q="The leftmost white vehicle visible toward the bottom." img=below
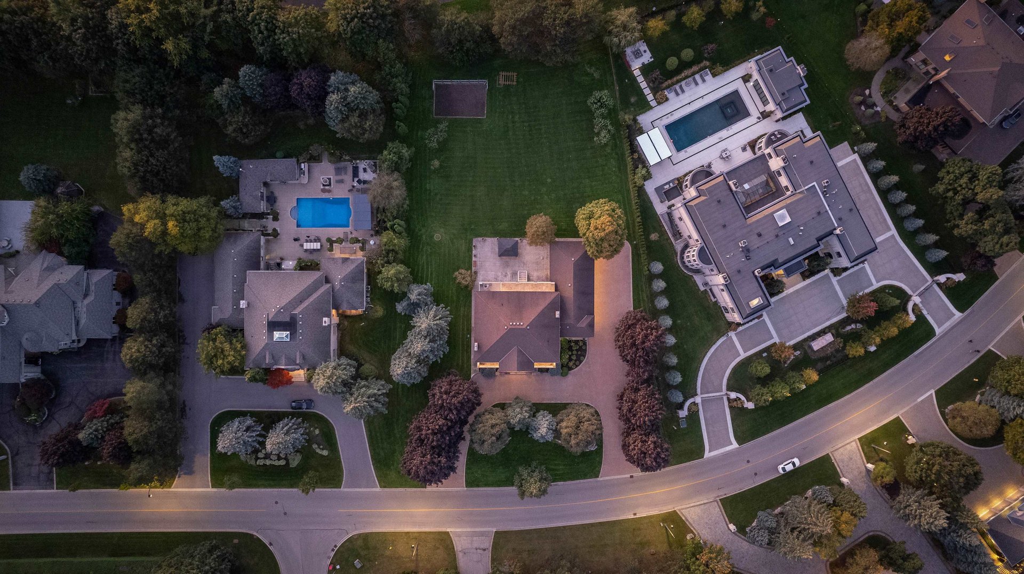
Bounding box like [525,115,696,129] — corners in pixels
[777,458,800,474]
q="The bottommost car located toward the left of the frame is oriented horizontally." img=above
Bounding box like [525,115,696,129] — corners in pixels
[291,399,315,411]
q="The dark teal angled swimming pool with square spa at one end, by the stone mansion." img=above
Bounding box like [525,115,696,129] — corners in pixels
[662,88,753,153]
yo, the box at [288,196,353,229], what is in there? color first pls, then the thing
blue swimming pool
